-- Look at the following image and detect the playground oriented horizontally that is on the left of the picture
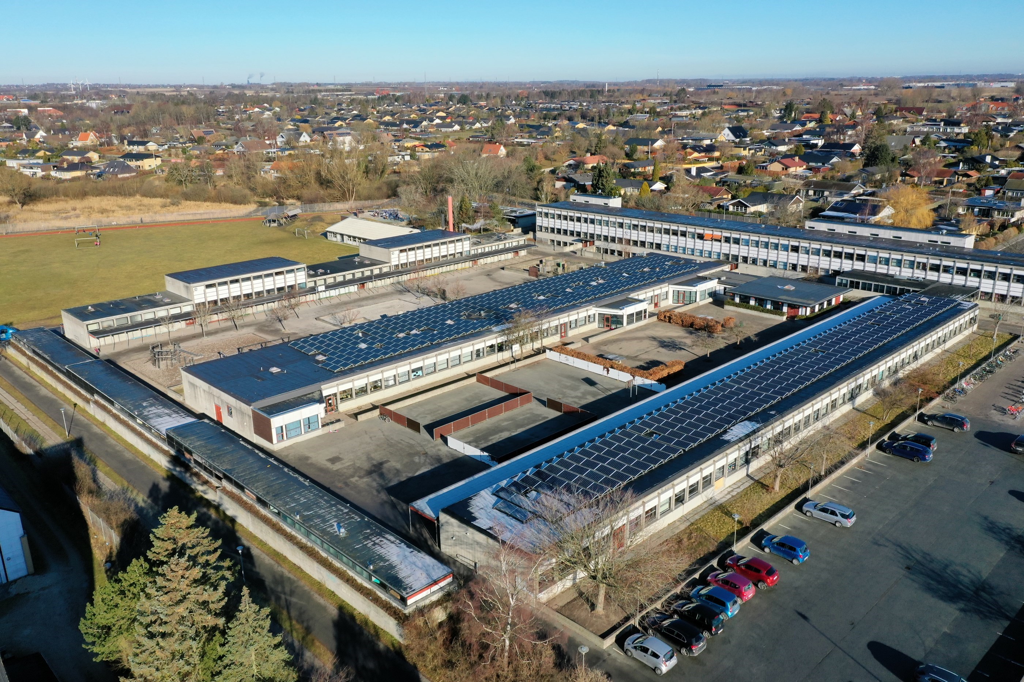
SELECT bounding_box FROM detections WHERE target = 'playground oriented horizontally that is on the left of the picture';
[125,334,282,395]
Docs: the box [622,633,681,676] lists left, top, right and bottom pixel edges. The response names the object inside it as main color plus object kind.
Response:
gray car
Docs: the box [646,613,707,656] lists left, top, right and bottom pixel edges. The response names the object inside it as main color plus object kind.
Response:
black car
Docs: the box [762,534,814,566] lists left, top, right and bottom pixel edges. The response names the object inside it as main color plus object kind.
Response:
blue car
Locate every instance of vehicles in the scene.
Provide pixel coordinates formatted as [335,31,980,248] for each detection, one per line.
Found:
[646,613,707,656]
[882,439,935,464]
[892,430,942,454]
[1005,432,1024,455]
[622,633,681,676]
[923,412,973,434]
[688,581,747,620]
[707,568,760,602]
[762,534,814,566]
[801,499,860,529]
[668,595,732,638]
[726,553,784,589]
